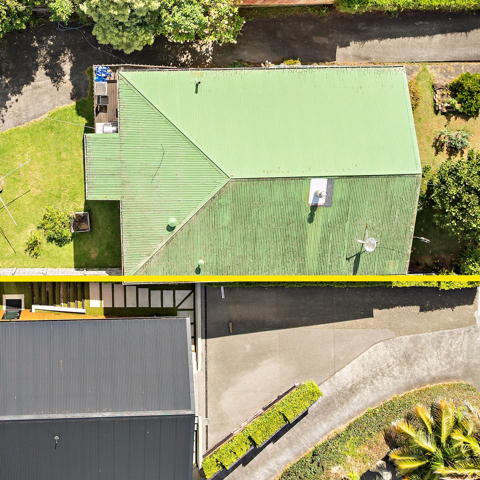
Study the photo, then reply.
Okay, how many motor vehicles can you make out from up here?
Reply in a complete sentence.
The picture shows no motor vehicles.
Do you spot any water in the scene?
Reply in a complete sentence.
No, water can't be seen anywhere here.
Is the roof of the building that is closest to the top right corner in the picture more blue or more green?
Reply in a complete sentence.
The roof of the building that is closest to the top right corner looks green in the image.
